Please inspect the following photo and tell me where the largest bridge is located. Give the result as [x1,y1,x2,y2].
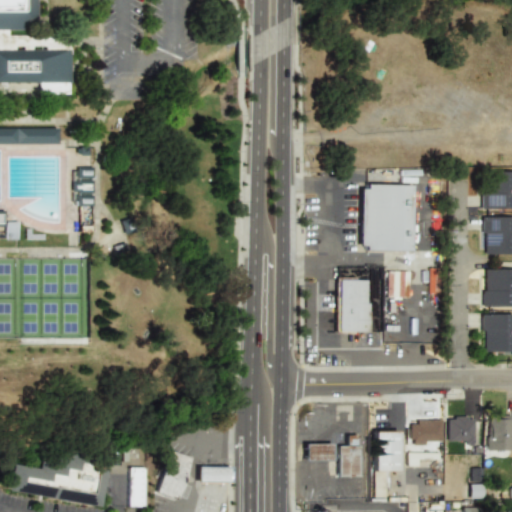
[251,16,298,66]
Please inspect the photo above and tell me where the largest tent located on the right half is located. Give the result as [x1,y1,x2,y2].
[389,271,412,298]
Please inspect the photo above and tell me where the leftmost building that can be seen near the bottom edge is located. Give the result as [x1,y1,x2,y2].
[14,460,110,508]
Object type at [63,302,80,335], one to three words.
sports court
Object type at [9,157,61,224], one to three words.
swimming pool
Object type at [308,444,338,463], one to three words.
shed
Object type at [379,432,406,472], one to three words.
building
